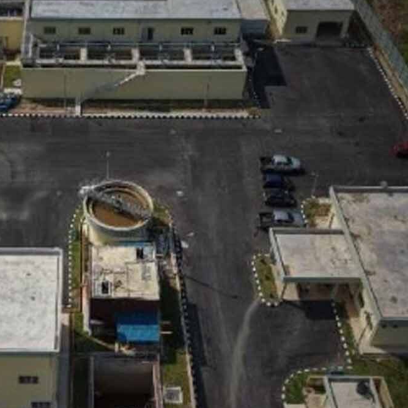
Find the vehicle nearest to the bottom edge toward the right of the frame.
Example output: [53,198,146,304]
[258,206,307,226]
